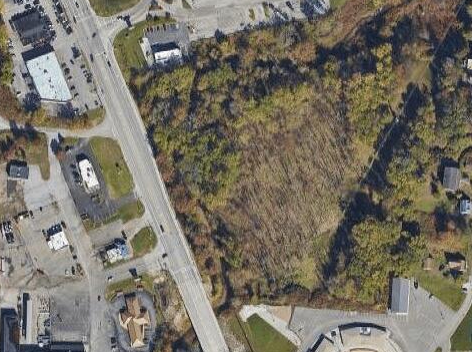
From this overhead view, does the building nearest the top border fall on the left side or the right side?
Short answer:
left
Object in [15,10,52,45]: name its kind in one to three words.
building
